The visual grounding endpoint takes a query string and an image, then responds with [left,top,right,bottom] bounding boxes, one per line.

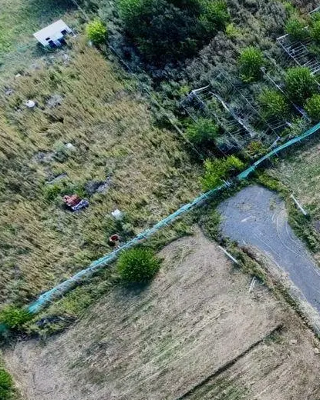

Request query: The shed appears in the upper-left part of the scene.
[30,18,80,52]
